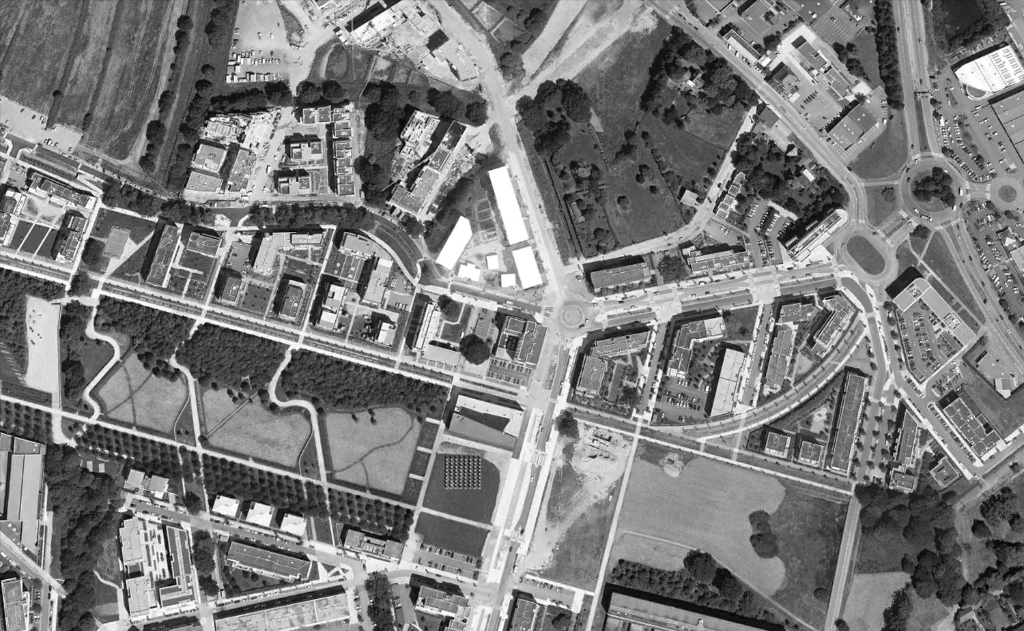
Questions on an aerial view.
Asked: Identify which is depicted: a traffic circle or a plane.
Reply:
traffic circle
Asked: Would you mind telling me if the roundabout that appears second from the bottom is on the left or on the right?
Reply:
right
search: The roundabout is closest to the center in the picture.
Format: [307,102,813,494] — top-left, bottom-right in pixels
[551,295,594,337]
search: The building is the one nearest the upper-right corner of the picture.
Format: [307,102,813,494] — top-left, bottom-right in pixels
[955,45,1024,93]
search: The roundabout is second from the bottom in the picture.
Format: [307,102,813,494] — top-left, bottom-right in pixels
[836,224,896,286]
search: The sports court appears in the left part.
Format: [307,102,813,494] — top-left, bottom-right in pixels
[103,225,131,259]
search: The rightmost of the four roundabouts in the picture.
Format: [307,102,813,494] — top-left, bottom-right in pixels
[989,175,1024,212]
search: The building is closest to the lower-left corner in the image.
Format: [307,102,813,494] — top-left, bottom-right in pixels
[1,579,30,631]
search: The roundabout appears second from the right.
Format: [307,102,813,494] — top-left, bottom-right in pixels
[896,153,970,226]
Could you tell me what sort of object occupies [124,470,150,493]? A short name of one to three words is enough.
house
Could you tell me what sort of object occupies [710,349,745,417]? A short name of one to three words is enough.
building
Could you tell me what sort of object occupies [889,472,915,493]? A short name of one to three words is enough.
building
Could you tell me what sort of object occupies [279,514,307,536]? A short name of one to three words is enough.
house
